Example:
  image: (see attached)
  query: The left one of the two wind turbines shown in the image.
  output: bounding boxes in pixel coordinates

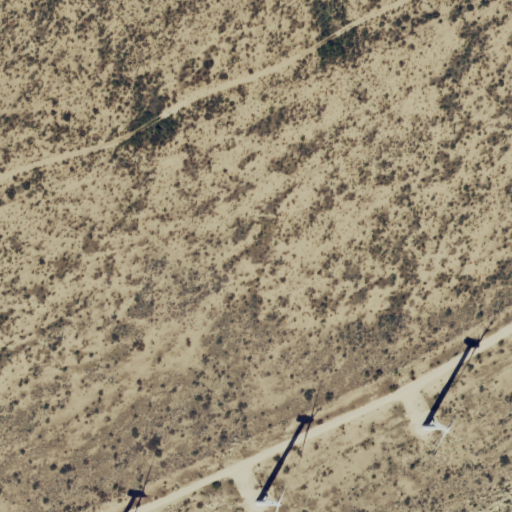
[254,488,286,512]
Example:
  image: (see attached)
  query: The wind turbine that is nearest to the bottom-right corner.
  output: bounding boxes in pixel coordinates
[421,414,458,459]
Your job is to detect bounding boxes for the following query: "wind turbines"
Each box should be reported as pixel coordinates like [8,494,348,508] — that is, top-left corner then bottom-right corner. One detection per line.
[254,488,286,512]
[421,414,458,459]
